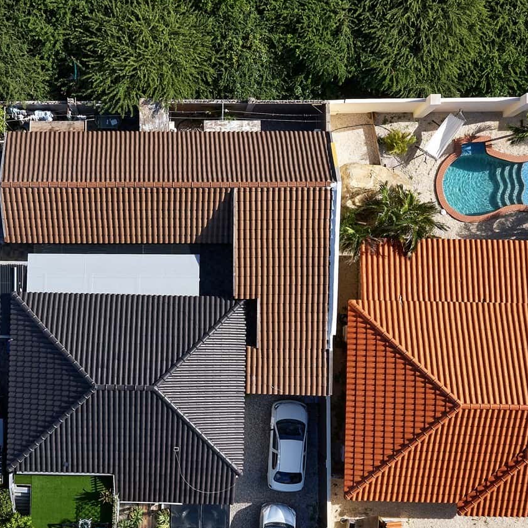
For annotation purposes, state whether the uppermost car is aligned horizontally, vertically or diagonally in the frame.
vertically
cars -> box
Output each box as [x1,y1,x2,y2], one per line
[266,398,312,494]
[257,499,297,528]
